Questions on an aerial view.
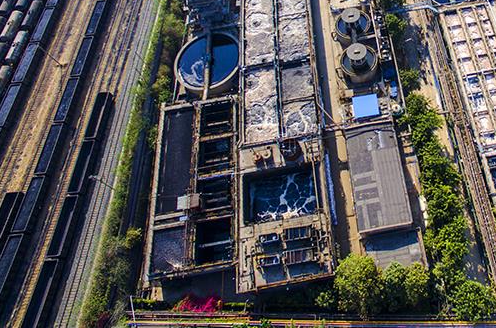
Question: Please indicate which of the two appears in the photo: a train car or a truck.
train car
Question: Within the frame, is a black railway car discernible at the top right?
No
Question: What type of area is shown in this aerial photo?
industrial area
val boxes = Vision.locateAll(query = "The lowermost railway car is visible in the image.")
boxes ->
[20,304,48,328]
